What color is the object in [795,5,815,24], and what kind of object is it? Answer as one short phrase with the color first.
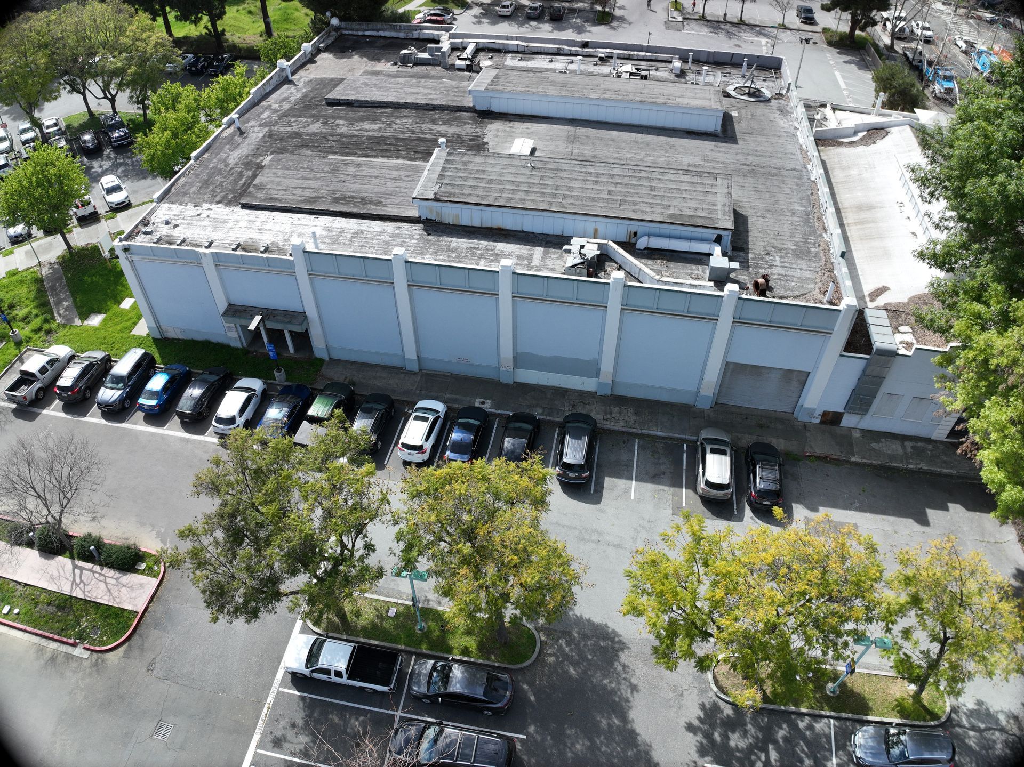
gray vehicle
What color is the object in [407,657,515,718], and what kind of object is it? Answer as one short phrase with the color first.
black car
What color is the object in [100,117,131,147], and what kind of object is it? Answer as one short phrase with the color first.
black truck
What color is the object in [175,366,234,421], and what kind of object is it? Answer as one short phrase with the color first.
black car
